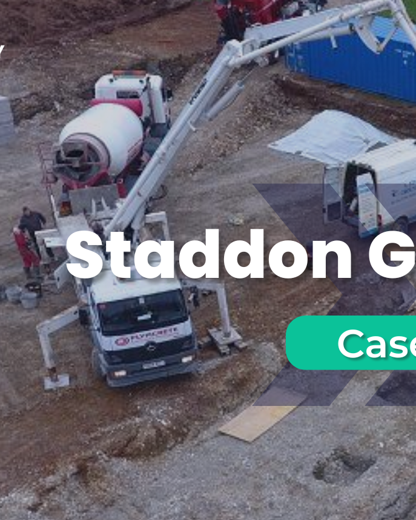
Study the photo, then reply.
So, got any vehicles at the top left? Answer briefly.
Yes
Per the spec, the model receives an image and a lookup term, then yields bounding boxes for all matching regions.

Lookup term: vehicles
[322,138,416,245]
[30,0,416,385]
[27,66,195,214]
[200,0,313,40]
